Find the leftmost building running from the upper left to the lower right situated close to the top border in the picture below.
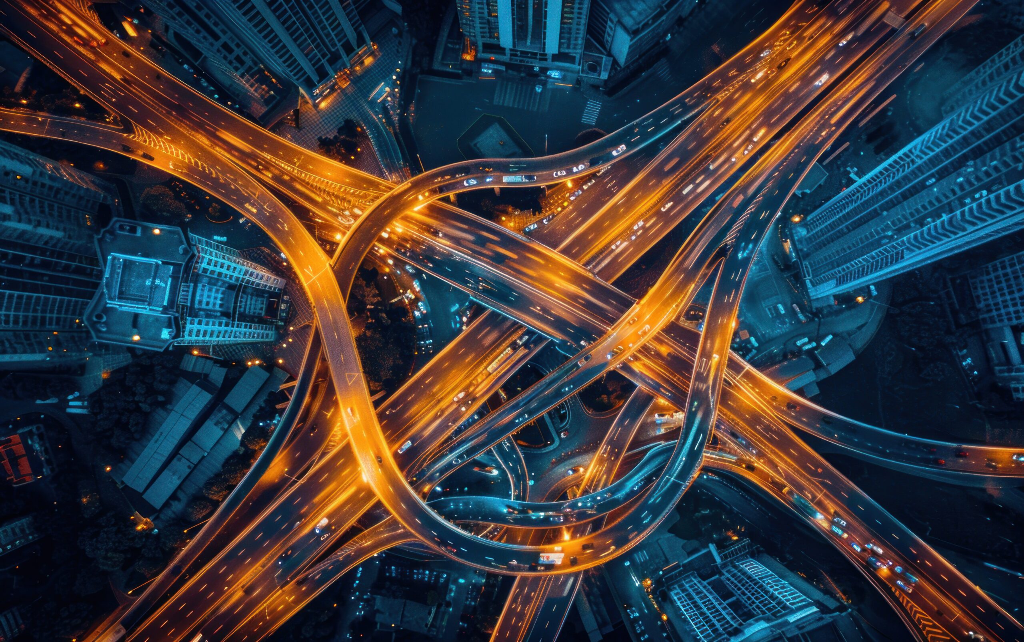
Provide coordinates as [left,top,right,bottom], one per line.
[124,0,295,126]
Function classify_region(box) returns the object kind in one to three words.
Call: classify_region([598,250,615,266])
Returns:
vehicle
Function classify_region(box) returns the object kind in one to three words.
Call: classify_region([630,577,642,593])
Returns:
vehicle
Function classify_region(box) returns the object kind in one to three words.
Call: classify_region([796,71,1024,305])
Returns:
building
